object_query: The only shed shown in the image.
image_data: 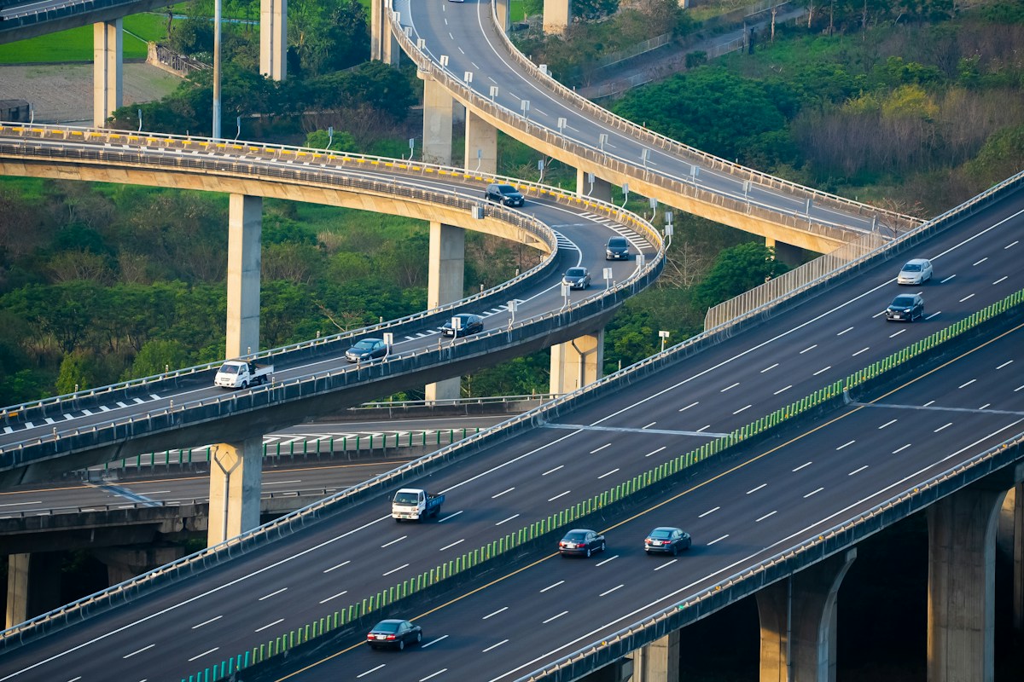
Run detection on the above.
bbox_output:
[0,93,30,124]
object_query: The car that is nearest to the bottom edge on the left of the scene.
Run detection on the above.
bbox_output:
[370,615,425,647]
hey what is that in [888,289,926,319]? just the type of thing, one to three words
car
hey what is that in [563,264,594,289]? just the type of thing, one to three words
car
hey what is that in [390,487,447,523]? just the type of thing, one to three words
truck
